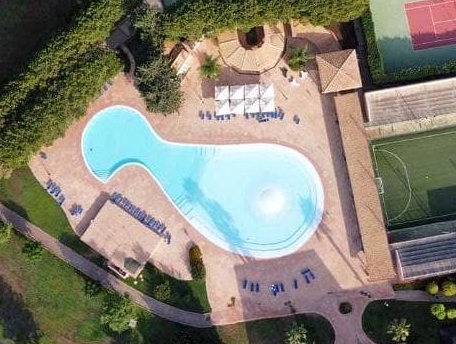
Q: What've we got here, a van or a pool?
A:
pool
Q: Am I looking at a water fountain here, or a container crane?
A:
water fountain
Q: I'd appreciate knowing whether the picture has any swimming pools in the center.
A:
Yes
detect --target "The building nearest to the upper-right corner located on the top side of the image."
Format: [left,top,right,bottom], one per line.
[316,49,363,94]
